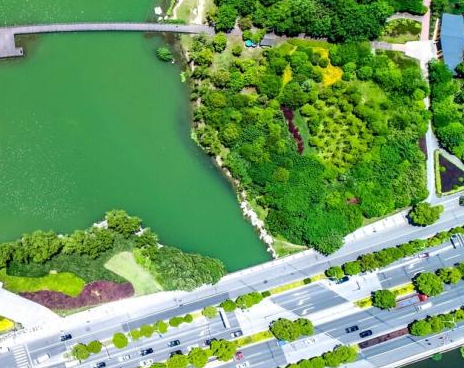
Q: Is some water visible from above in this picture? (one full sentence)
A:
Yes, there is water in the image.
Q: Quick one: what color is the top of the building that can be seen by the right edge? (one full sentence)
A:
The color of the roof on the building that can be seen by the right edge is blue.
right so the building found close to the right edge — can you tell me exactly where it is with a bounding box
[431,14,464,76]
